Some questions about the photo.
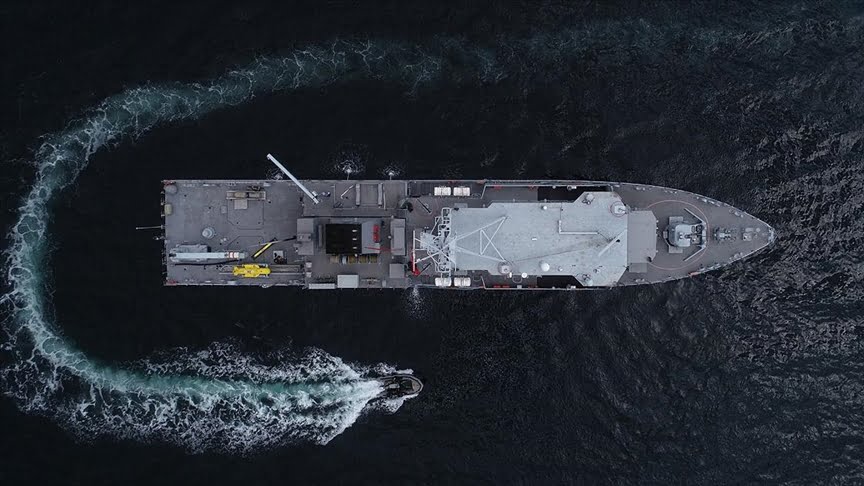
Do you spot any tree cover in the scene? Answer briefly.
No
